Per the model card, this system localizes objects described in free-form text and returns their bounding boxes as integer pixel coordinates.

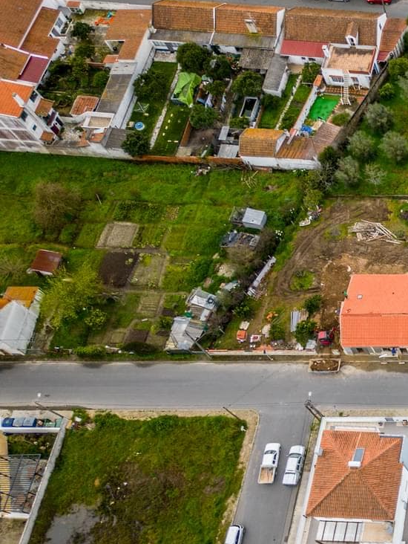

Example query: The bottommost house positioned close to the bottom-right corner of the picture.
[306,426,408,544]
